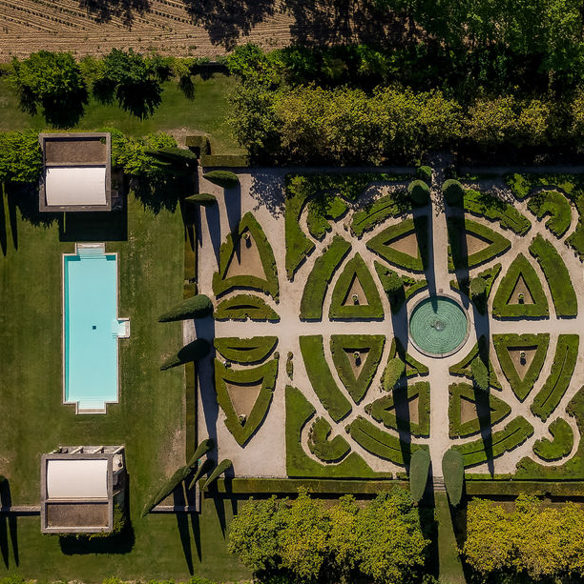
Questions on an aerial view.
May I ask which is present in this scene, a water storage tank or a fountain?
fountain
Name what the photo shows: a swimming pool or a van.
swimming pool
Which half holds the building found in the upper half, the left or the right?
left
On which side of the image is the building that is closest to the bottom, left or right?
left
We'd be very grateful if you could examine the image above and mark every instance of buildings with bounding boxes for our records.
[41,447,124,533]
[39,133,122,212]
